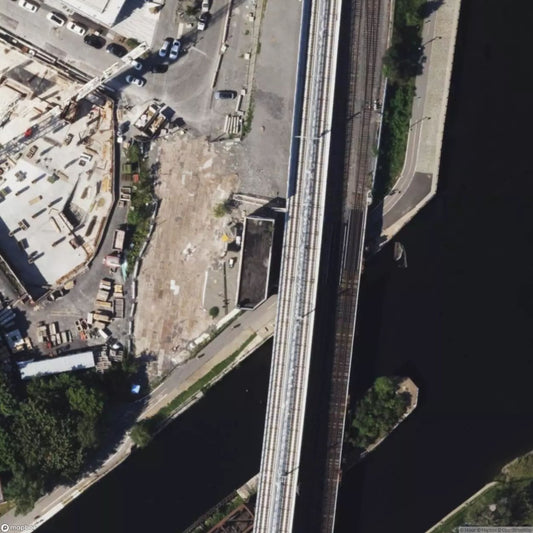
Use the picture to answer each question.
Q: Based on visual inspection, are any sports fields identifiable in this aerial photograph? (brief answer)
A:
No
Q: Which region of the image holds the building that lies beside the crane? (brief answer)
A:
top left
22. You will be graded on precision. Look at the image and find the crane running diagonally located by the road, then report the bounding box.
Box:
[0,40,149,164]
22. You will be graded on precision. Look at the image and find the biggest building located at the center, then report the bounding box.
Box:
[236,215,275,310]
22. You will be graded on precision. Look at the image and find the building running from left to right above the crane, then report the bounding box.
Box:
[58,0,126,29]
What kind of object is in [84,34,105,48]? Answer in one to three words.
car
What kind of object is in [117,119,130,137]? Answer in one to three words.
vehicle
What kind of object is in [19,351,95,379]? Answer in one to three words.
shed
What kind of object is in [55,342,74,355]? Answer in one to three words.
vehicle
